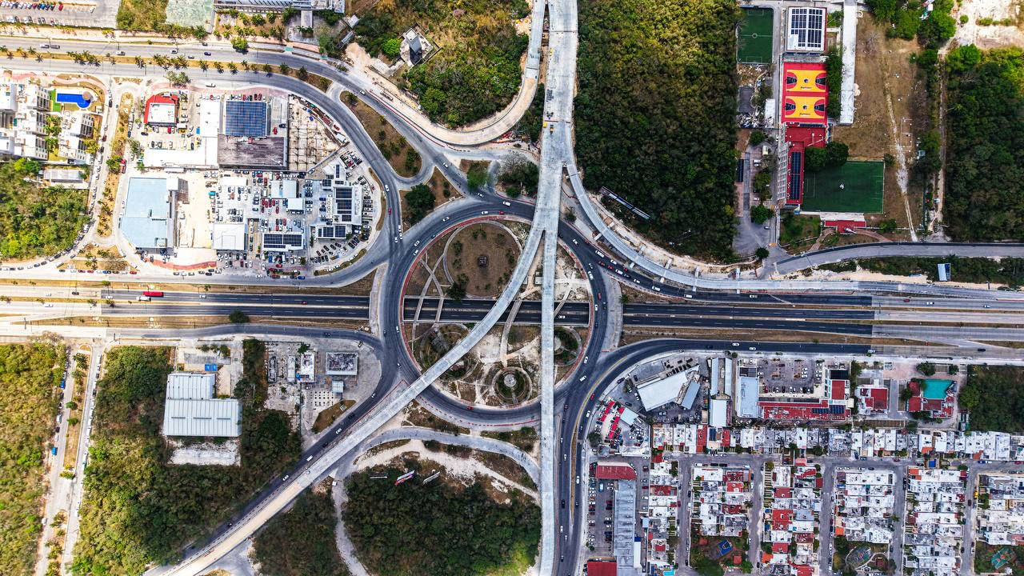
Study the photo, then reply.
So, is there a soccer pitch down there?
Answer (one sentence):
Yes, there's a soccer pitch here.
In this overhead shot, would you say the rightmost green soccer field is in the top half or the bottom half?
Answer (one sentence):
You can find the rightmost green soccer field in the top half.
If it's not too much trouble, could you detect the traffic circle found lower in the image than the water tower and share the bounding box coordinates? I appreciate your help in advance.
[385,200,607,422]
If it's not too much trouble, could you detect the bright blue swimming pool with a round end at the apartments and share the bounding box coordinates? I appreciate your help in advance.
[56,92,92,110]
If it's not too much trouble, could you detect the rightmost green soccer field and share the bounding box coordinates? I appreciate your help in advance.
[801,162,884,213]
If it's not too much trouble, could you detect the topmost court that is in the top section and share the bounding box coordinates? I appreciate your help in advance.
[786,70,828,92]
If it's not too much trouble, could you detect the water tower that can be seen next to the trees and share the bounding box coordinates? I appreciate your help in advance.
[403,27,423,57]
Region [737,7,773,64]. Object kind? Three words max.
soccer field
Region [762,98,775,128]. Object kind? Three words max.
shed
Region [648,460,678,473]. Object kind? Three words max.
house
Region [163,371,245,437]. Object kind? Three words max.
building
